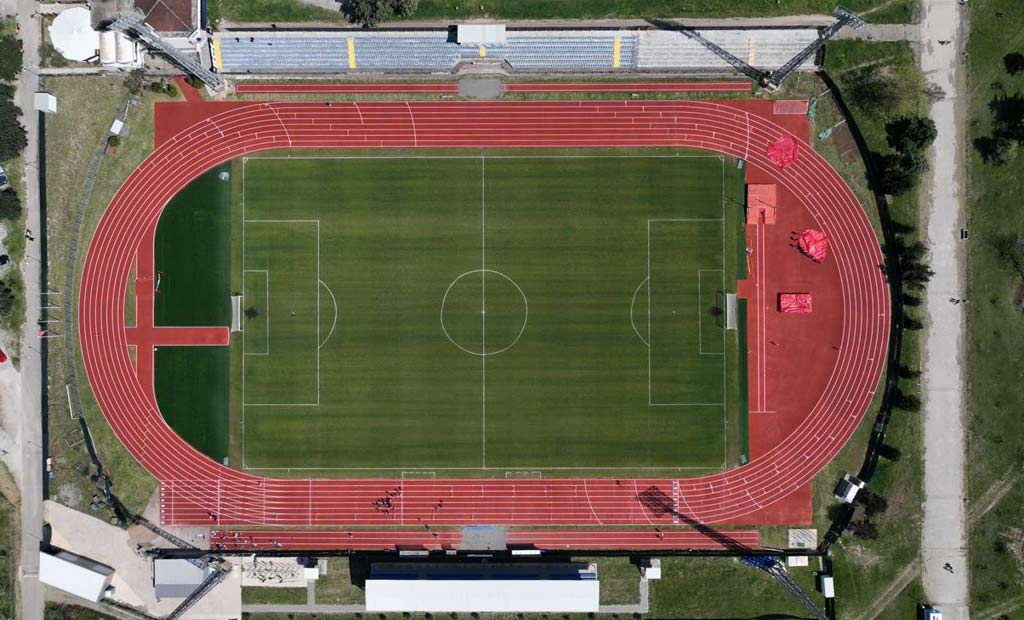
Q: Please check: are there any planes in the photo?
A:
No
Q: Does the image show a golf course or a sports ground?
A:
sports ground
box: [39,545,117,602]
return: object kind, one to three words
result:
building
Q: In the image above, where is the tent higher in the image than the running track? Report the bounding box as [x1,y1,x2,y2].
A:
[51,9,104,65]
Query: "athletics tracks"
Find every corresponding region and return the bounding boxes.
[78,77,891,526]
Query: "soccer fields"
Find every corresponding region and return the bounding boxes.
[229,147,739,479]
